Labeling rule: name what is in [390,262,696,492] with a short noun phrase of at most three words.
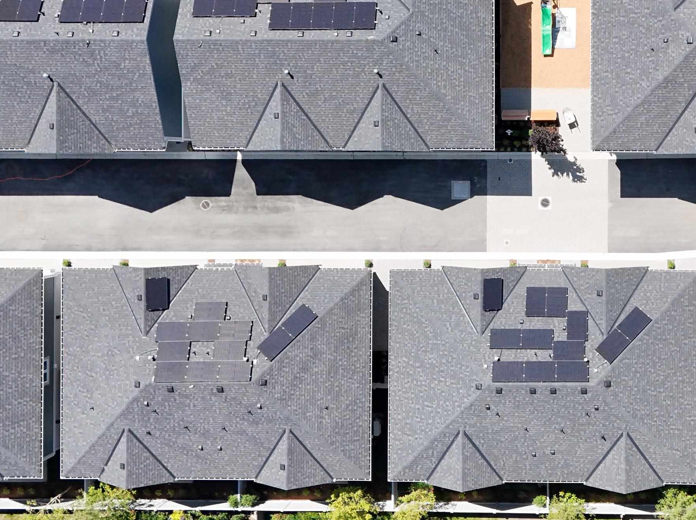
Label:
house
